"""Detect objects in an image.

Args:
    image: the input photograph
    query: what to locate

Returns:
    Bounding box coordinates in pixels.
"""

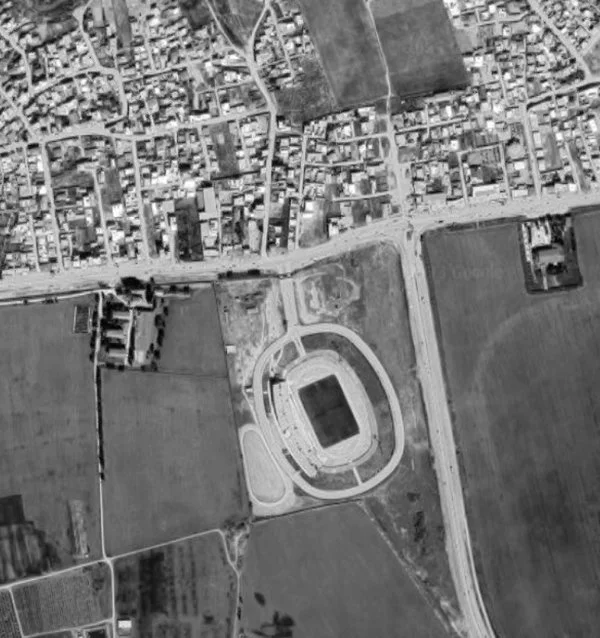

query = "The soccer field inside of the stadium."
[299,374,360,448]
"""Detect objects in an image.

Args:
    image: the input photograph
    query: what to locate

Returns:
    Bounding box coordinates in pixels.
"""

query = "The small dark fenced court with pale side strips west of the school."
[73,305,90,333]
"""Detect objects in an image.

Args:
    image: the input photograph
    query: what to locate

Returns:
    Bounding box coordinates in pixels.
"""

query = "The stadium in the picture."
[274,350,379,476]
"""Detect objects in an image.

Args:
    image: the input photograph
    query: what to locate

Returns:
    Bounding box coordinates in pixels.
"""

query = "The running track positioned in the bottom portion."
[239,424,310,515]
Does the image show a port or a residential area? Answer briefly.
residential area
